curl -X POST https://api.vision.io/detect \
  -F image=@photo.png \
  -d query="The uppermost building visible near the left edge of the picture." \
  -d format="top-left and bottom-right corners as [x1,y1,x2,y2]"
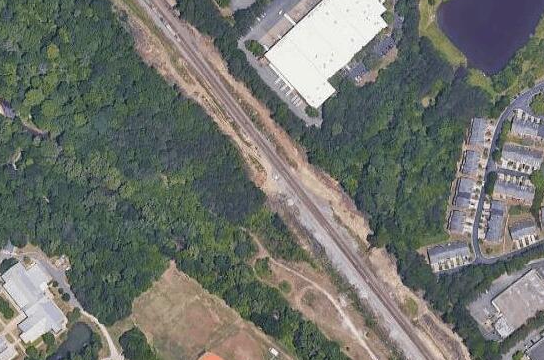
[0,262,52,312]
